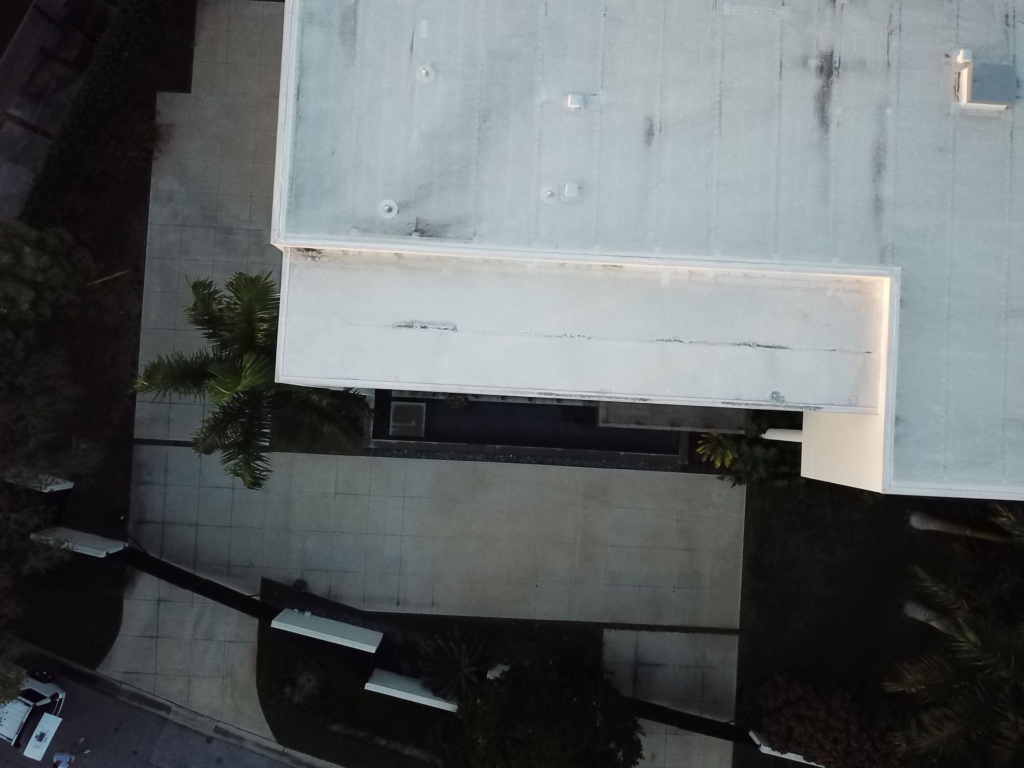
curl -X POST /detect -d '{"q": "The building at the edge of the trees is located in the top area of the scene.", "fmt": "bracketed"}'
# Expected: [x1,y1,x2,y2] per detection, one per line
[271,0,1024,500]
